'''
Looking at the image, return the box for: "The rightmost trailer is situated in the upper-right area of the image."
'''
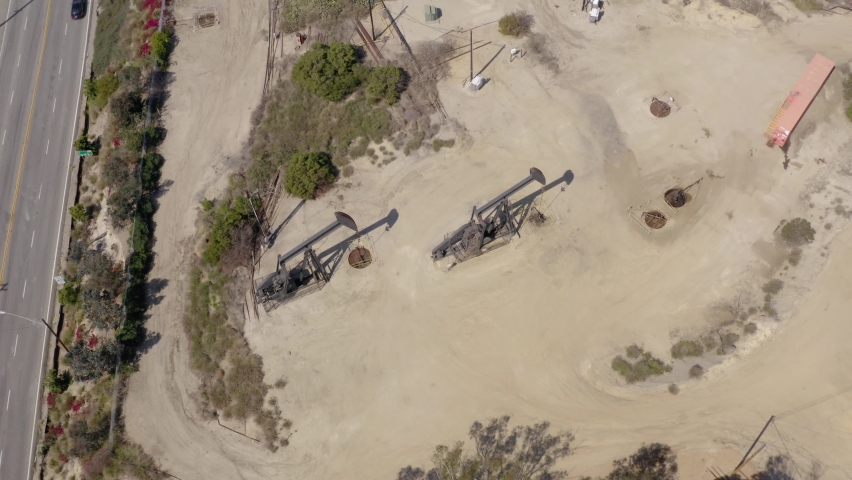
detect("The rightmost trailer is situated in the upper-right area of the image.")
[758,54,838,154]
